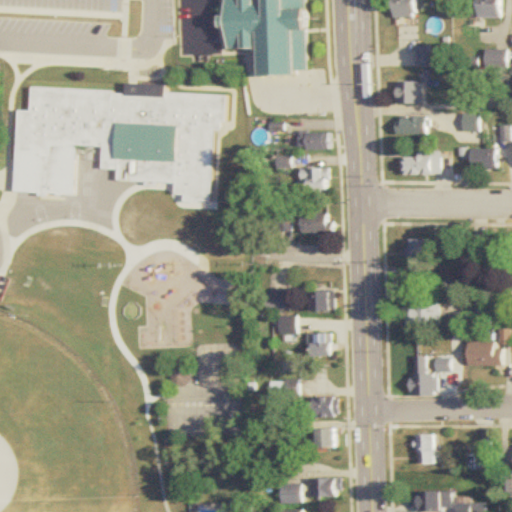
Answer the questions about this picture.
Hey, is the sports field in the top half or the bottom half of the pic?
bottom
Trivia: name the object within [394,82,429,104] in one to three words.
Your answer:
house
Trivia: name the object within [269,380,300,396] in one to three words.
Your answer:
building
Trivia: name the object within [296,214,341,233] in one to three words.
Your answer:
house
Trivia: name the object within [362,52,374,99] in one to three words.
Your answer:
vehicle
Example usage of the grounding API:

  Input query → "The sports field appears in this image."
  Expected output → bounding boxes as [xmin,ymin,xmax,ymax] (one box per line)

[0,312,134,512]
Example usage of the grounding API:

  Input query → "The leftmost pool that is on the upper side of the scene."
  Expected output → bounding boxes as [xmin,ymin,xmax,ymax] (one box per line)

[252,128,272,146]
